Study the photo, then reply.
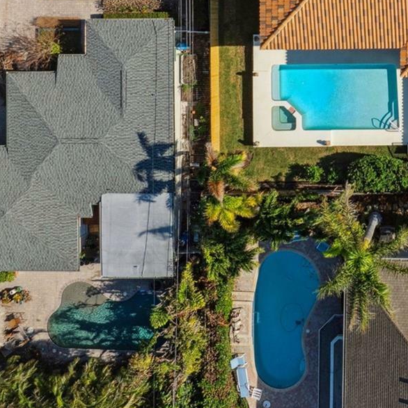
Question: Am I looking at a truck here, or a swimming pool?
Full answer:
Looking from above, you can make out a swimming pool.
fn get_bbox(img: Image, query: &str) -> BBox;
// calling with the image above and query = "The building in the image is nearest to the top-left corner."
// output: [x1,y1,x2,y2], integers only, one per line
[0,17,186,277]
